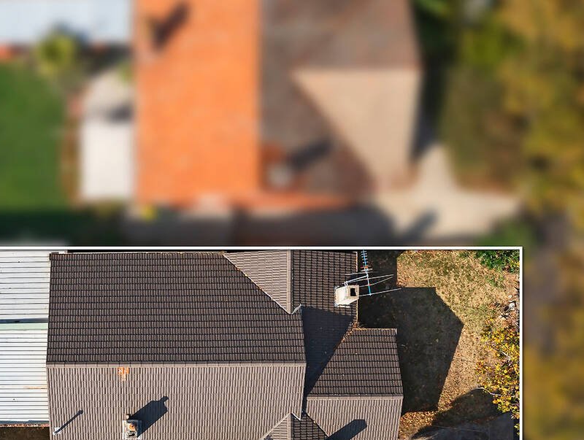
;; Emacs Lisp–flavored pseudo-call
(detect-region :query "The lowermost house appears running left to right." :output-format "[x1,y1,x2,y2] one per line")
[0,242,404,440]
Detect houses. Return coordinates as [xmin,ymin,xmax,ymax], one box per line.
[132,0,425,207]
[0,242,404,440]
